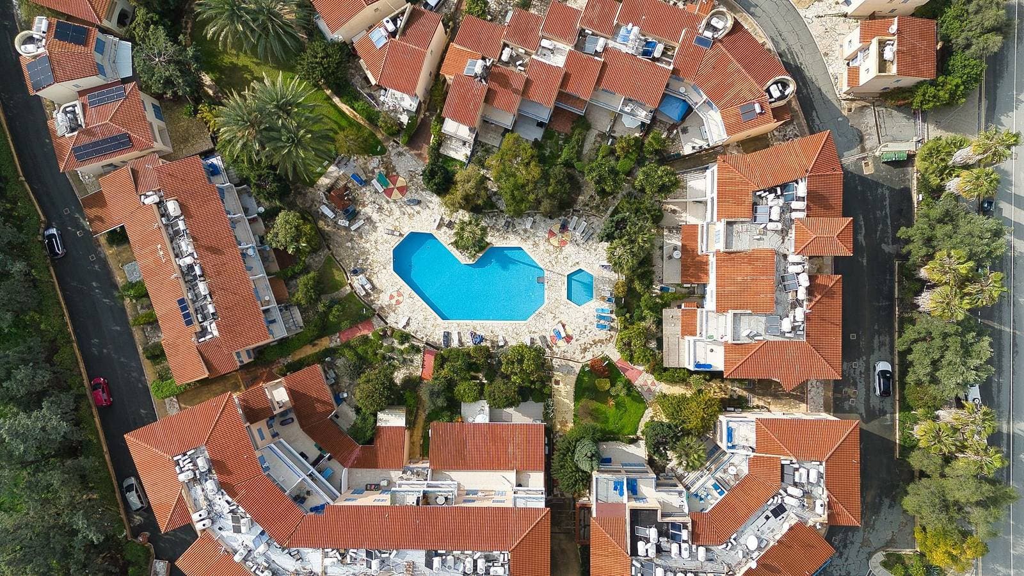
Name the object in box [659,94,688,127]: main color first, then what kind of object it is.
blue gazebo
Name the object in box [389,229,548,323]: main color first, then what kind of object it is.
blue swimming pool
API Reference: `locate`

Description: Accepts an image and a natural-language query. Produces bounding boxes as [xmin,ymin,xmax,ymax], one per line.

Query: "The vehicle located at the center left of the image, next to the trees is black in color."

[43,227,69,260]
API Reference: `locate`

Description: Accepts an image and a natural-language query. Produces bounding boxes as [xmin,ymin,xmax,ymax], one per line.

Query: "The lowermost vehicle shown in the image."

[123,476,149,512]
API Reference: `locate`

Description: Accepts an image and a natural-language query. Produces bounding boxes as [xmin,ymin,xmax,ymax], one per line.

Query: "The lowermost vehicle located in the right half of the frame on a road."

[872,360,893,397]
